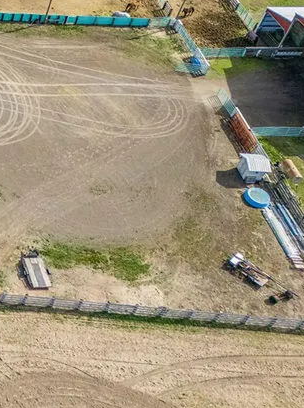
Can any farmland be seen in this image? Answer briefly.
Yes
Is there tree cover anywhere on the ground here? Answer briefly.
No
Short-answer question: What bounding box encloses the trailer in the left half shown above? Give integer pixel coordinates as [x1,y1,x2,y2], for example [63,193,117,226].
[23,242,58,292]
